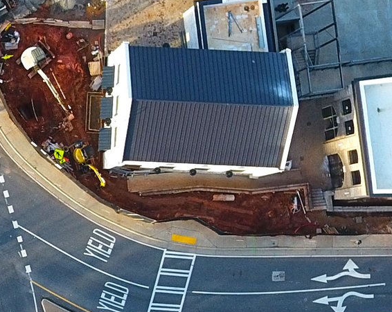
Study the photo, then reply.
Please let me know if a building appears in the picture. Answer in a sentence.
Yes, the image includes a building.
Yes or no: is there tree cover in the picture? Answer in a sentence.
No, the scene doesn't show any tree cover.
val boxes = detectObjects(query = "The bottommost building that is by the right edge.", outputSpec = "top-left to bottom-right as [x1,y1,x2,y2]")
[315,72,392,207]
